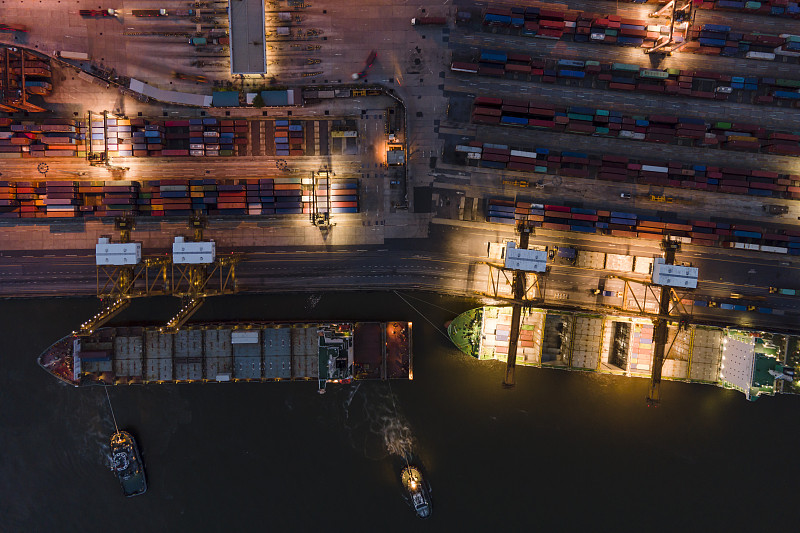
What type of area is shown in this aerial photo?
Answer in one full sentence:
The picture captures a port.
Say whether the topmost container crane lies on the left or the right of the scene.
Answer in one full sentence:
The topmost container crane is on the right side of the image.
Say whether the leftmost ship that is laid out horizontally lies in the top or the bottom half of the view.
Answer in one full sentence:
The leftmost ship that is laid out horizontally is in the bottom half of the image.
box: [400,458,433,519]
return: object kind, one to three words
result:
boat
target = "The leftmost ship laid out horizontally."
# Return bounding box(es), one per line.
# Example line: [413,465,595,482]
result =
[38,320,413,392]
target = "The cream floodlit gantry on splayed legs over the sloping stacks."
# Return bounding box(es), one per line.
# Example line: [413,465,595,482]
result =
[642,0,693,58]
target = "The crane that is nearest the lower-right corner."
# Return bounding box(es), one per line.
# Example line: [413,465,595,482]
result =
[598,234,698,406]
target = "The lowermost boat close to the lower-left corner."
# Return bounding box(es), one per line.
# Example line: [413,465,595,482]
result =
[108,432,146,498]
